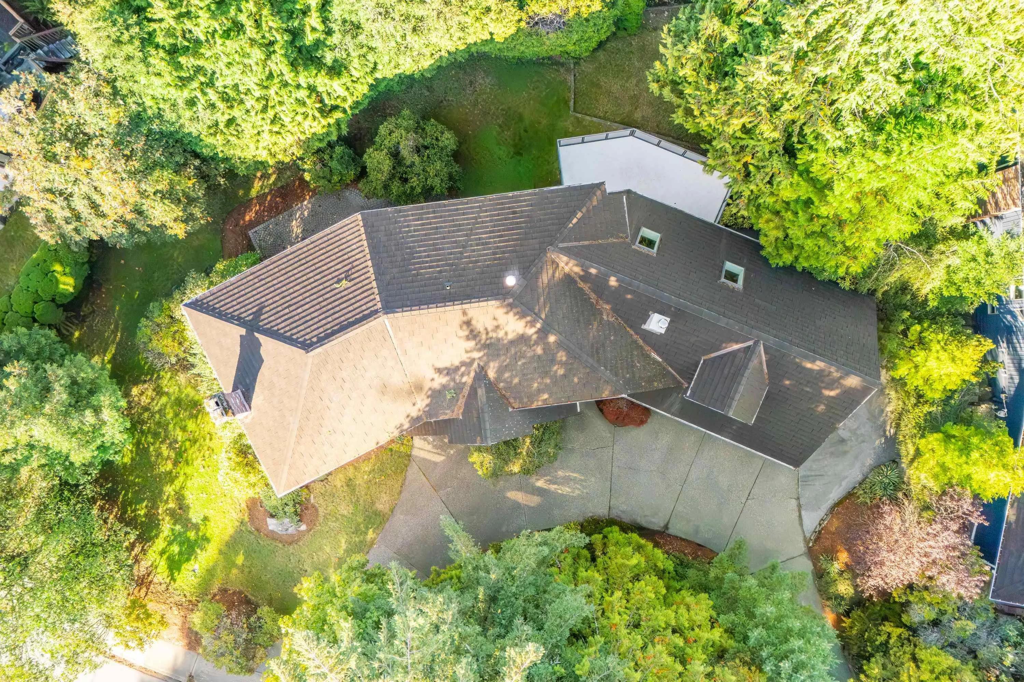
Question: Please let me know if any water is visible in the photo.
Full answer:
No, there's no water in this view.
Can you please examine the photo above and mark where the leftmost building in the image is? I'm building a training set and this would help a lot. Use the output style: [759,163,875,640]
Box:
[179,180,879,499]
